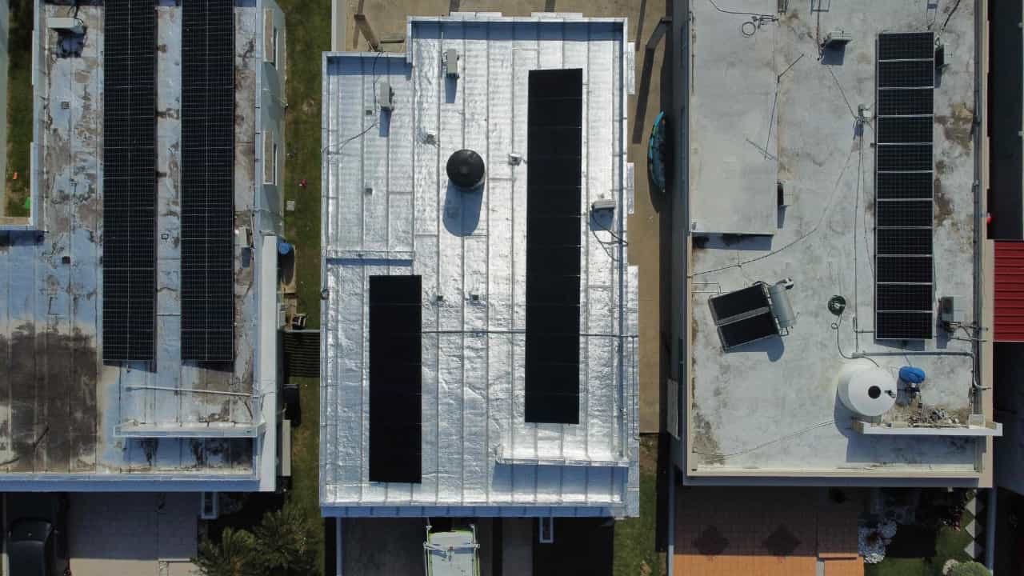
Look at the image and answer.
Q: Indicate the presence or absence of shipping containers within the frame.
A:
No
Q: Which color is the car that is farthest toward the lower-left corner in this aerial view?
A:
black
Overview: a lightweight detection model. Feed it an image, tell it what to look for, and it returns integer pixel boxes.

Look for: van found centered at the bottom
[424,516,485,576]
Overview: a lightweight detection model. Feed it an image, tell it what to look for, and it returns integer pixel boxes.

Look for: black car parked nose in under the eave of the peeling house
[5,498,72,576]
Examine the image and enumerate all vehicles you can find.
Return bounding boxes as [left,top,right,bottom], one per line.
[424,516,485,576]
[5,498,72,576]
